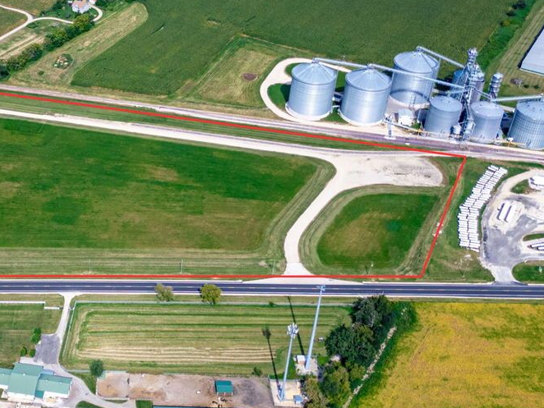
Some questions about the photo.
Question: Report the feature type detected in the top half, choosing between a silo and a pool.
silo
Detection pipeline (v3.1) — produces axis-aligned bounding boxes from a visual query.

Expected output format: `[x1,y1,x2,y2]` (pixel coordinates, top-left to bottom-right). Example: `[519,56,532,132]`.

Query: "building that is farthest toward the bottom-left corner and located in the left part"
[0,363,74,401]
